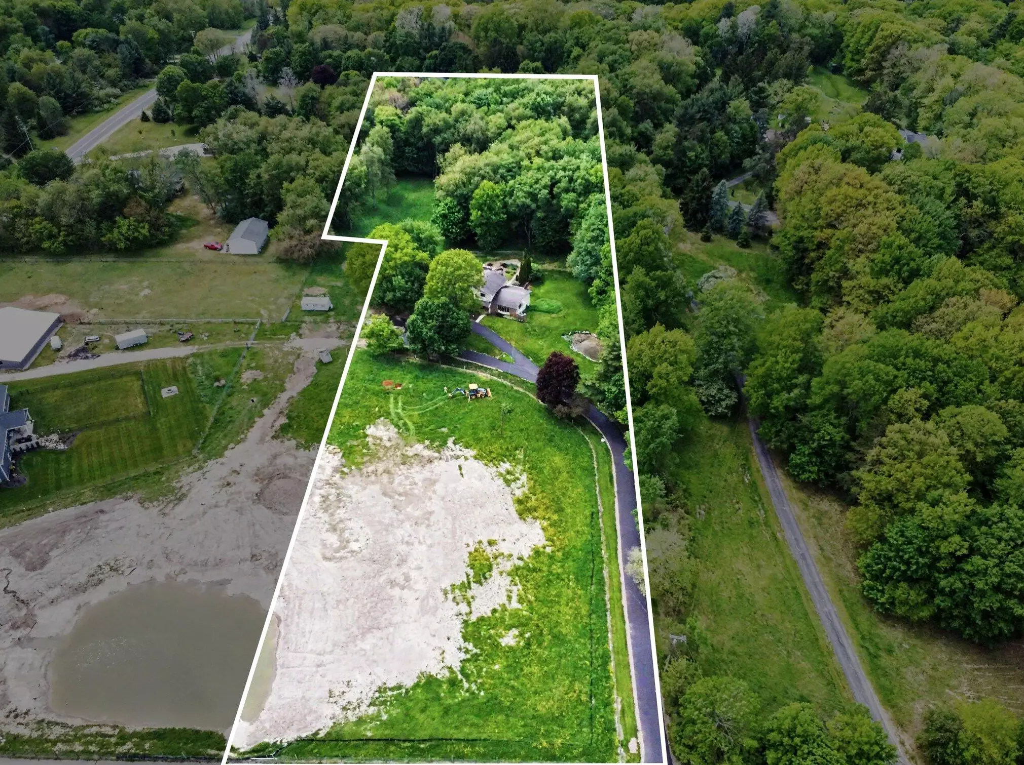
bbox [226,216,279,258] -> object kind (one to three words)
shed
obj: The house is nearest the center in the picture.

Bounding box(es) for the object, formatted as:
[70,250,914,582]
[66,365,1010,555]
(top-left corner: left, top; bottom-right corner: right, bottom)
[466,270,532,325]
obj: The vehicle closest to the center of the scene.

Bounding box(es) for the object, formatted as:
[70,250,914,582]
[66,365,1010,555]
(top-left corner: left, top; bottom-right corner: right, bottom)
[448,384,496,405]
